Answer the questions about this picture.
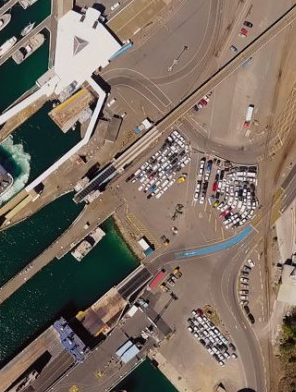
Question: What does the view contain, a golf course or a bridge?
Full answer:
The one in the frame is a bridge.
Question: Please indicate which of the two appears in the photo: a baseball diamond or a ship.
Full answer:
The image shows a ship.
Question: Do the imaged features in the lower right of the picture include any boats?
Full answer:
No, there's no boat to be seen in the lower right of the picture.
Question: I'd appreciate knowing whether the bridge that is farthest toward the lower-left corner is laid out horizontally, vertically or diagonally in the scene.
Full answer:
In this picture, the bridge that is farthest toward the lower-left corner is oriented diagonally.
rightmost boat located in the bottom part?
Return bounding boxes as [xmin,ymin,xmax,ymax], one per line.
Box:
[71,228,105,261]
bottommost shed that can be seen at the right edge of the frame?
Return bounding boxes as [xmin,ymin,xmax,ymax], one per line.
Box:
[274,285,296,307]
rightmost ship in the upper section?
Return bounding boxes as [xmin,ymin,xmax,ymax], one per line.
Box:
[48,87,95,134]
